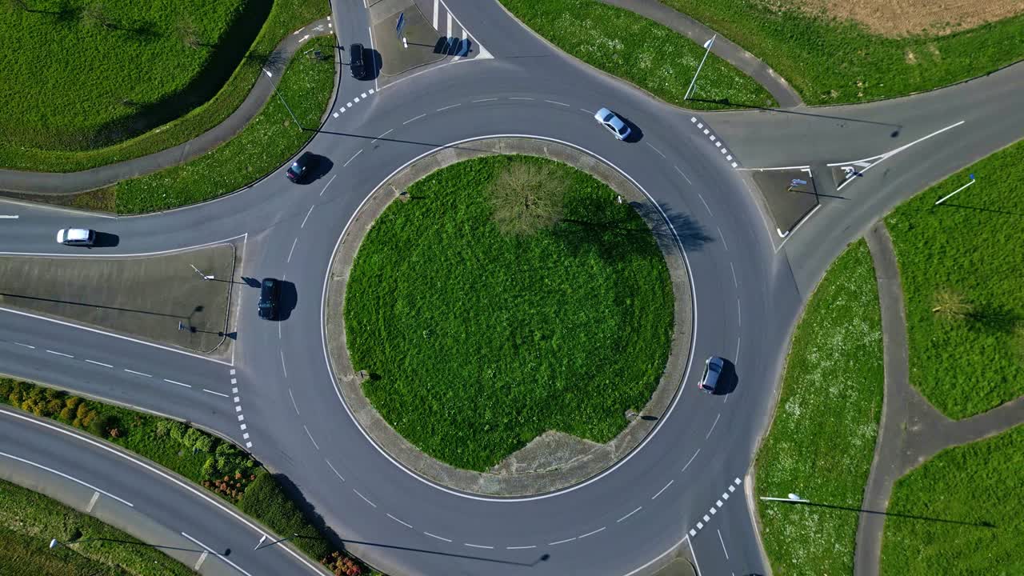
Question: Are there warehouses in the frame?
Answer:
No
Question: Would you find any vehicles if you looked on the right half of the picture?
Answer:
Yes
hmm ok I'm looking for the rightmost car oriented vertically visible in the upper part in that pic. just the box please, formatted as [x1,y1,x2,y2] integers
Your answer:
[349,43,367,80]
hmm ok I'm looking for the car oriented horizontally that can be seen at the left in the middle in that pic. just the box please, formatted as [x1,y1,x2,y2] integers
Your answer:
[57,227,99,247]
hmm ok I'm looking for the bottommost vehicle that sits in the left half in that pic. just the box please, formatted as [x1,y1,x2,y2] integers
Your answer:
[258,278,280,320]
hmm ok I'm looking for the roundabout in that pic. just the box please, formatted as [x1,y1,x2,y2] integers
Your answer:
[213,46,804,576]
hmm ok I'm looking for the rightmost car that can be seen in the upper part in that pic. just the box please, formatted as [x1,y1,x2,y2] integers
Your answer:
[595,109,632,141]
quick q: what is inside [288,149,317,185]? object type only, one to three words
car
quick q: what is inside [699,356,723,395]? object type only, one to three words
car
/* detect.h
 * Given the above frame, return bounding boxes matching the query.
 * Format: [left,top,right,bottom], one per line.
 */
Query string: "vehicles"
[595,109,632,141]
[57,227,99,247]
[699,356,723,395]
[258,278,280,320]
[349,43,367,80]
[288,149,317,185]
